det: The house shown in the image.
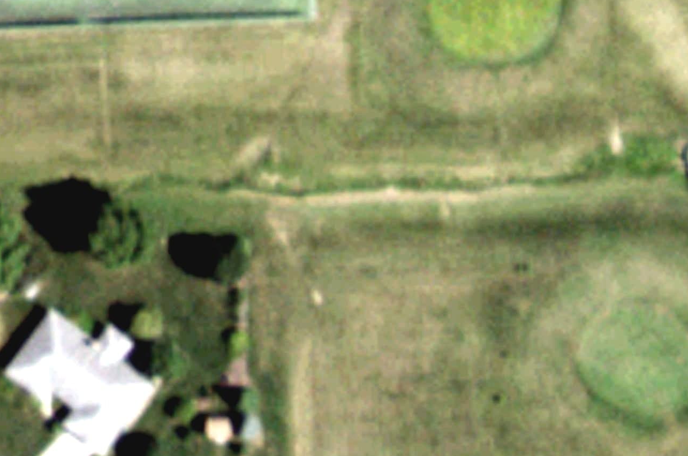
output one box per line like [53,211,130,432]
[5,311,155,456]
